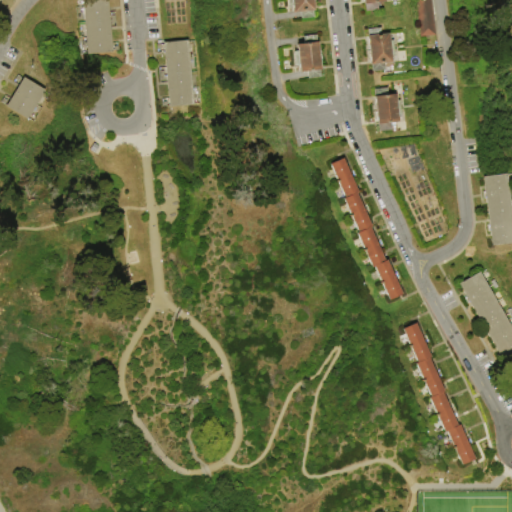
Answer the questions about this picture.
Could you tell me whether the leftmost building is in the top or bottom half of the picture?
top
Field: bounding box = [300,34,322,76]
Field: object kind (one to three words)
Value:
house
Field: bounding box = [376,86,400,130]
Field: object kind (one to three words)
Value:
house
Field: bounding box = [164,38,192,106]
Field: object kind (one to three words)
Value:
building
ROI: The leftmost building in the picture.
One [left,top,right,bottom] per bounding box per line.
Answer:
[7,76,44,118]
